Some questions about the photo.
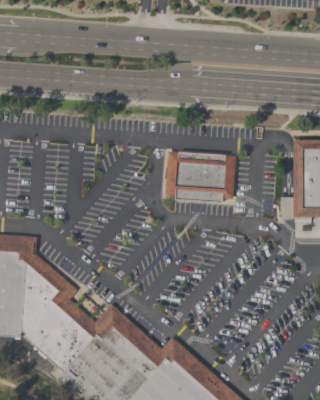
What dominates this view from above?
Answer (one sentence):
The bulk of the photo consists of paved ground.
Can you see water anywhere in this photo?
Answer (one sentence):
No, water can't be seen anywhere here.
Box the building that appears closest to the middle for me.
[166,152,236,202]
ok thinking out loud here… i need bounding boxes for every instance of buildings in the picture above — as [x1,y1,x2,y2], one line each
[281,139,320,220]
[0,234,245,400]
[166,152,236,202]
